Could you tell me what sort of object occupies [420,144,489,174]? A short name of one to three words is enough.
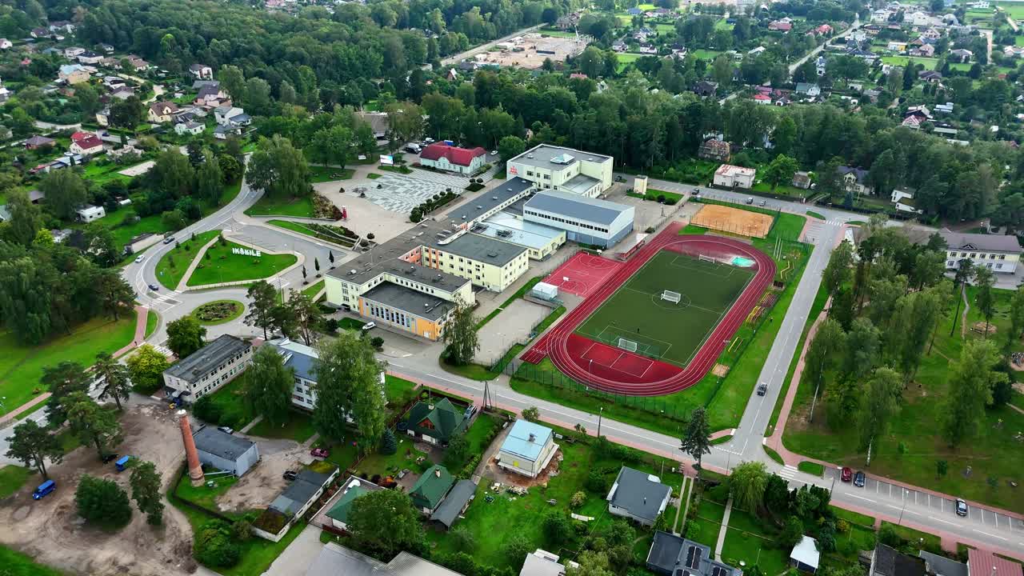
house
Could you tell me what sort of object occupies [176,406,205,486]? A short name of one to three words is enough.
chimney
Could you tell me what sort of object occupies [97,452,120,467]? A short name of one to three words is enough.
car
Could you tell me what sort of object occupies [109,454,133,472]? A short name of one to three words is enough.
vehicle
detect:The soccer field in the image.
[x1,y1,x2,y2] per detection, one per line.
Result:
[574,250,757,367]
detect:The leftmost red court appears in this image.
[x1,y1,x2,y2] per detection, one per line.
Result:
[542,251,625,298]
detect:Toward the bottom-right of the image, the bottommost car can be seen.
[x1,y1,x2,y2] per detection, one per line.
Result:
[955,495,968,514]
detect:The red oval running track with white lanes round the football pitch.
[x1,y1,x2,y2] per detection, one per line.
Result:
[519,221,776,394]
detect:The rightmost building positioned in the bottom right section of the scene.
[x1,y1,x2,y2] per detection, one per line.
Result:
[962,545,1017,576]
